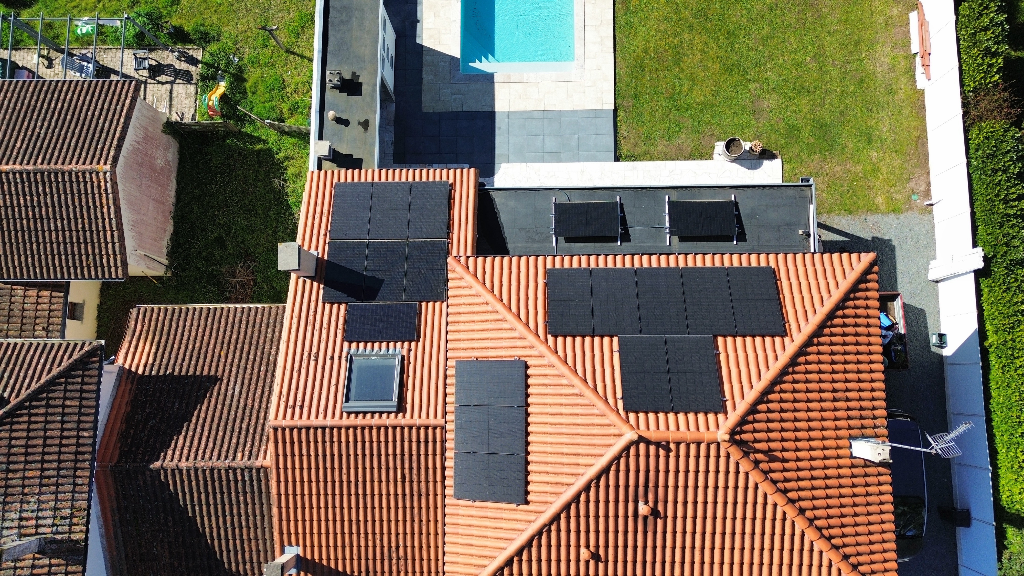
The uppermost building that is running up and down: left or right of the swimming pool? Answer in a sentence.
Looking at the photo, the uppermost building that is running up and down lies to the left of the swimming pool.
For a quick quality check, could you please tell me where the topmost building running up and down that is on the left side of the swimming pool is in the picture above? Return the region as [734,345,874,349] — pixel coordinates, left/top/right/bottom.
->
[309,0,394,170]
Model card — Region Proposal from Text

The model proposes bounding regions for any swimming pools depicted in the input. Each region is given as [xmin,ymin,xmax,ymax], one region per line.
[459,0,575,73]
